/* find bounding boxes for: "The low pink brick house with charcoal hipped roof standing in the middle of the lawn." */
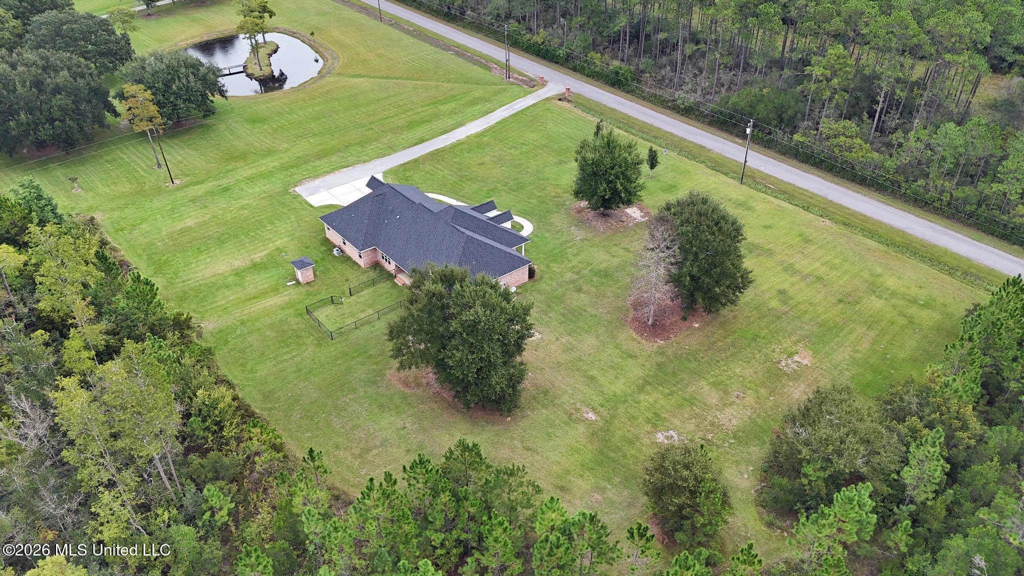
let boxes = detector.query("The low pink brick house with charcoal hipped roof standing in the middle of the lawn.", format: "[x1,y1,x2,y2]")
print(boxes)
[318,175,533,299]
